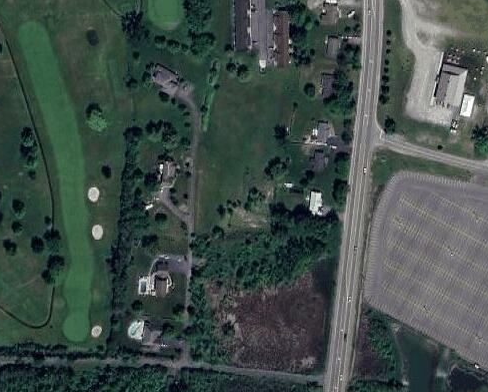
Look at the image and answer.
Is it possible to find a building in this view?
Yes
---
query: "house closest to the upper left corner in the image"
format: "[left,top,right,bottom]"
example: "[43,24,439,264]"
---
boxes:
[149,62,179,97]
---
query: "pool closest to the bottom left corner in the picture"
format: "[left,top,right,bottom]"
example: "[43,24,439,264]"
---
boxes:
[129,319,144,339]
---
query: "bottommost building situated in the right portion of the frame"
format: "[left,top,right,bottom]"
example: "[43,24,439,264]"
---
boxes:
[308,192,324,216]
